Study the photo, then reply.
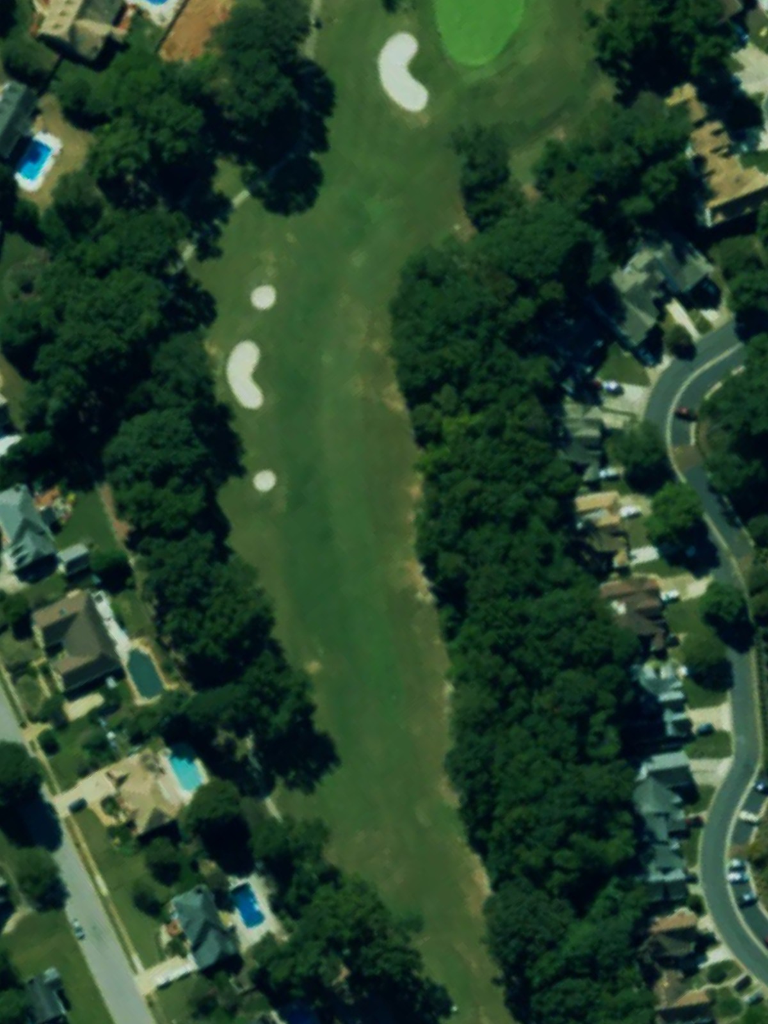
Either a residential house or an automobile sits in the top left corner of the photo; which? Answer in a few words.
residential house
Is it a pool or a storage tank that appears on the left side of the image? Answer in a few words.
pool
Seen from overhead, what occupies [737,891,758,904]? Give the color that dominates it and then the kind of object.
blue vehicle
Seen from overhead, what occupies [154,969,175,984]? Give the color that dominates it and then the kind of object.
white car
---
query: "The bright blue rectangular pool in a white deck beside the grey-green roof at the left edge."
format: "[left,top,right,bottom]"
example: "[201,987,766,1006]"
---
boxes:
[12,131,63,190]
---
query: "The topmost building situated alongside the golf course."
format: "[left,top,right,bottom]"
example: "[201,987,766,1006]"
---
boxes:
[664,81,768,222]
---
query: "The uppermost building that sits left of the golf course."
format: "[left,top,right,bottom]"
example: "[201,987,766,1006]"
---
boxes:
[40,0,117,60]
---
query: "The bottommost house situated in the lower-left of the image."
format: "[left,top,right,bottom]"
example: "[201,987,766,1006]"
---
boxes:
[25,969,70,1024]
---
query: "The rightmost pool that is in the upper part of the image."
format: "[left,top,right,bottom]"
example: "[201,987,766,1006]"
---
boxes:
[129,0,181,26]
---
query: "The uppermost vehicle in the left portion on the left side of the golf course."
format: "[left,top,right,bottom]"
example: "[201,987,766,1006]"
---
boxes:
[67,797,88,813]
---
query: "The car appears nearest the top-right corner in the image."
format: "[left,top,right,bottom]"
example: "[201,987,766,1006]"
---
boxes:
[735,25,750,44]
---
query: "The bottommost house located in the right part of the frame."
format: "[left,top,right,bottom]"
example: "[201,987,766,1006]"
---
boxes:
[653,970,718,1024]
